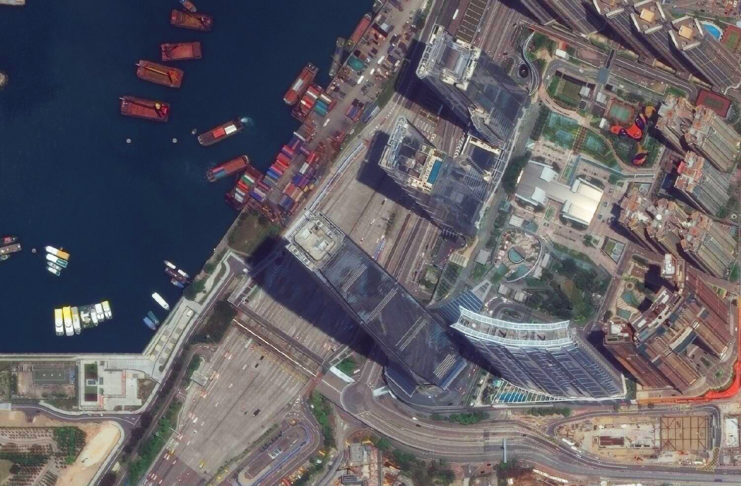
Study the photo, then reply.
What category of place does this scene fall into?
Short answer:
port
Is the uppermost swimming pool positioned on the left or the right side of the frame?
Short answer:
right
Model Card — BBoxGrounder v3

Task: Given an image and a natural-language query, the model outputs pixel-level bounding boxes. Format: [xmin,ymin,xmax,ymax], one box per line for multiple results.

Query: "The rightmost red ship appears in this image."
[344,14,372,54]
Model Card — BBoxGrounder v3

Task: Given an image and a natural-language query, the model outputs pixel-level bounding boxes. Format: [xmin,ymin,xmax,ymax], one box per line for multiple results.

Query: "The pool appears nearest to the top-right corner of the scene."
[701,21,724,42]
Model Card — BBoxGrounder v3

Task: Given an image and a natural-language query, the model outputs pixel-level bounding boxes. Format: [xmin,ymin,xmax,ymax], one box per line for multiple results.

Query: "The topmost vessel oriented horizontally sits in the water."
[172,10,213,31]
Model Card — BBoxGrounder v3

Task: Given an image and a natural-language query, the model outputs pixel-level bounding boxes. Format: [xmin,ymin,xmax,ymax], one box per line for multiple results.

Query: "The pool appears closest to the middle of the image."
[427,160,442,184]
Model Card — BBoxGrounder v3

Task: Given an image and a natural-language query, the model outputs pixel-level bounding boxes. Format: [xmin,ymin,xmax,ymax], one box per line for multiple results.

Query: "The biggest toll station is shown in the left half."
[238,286,340,368]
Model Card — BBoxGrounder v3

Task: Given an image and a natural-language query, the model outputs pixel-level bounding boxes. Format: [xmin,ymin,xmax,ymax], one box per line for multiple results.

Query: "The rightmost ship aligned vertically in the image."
[329,39,344,76]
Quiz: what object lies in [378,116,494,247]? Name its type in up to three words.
building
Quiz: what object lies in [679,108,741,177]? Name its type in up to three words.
building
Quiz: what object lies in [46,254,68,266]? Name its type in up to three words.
boat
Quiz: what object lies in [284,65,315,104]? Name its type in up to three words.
ship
